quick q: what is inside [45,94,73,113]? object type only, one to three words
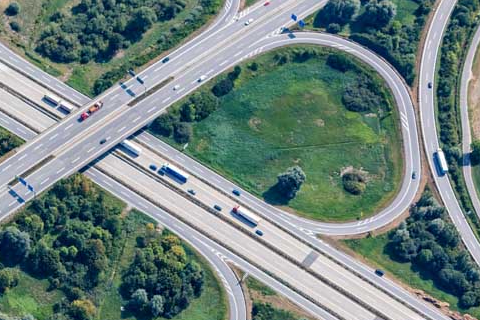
vehicle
